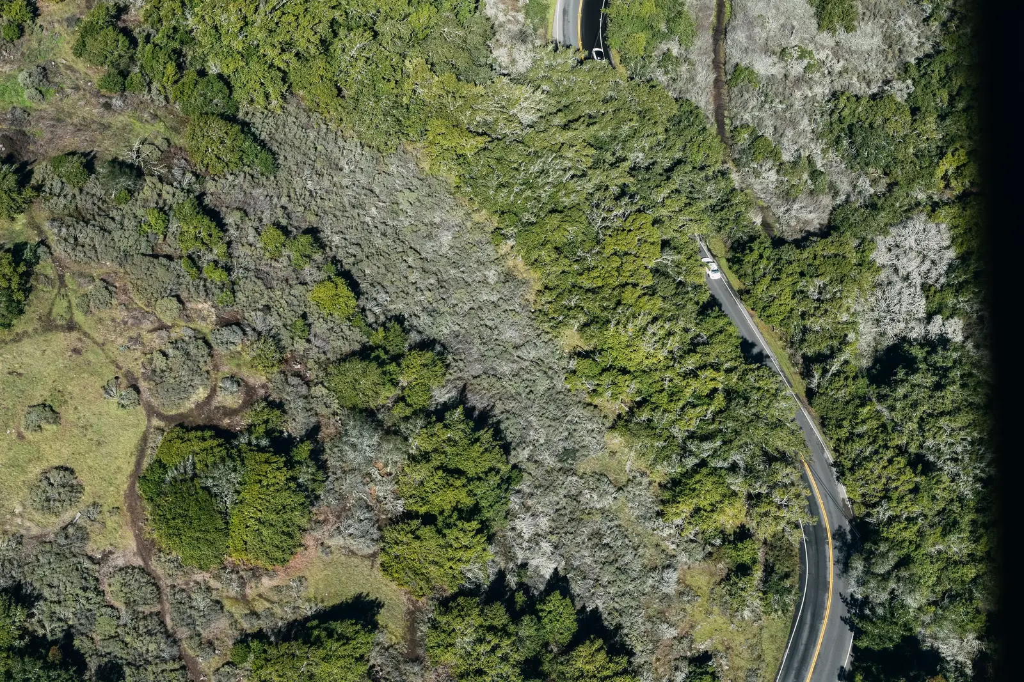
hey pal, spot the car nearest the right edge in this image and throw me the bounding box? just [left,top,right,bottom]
[701,258,719,281]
